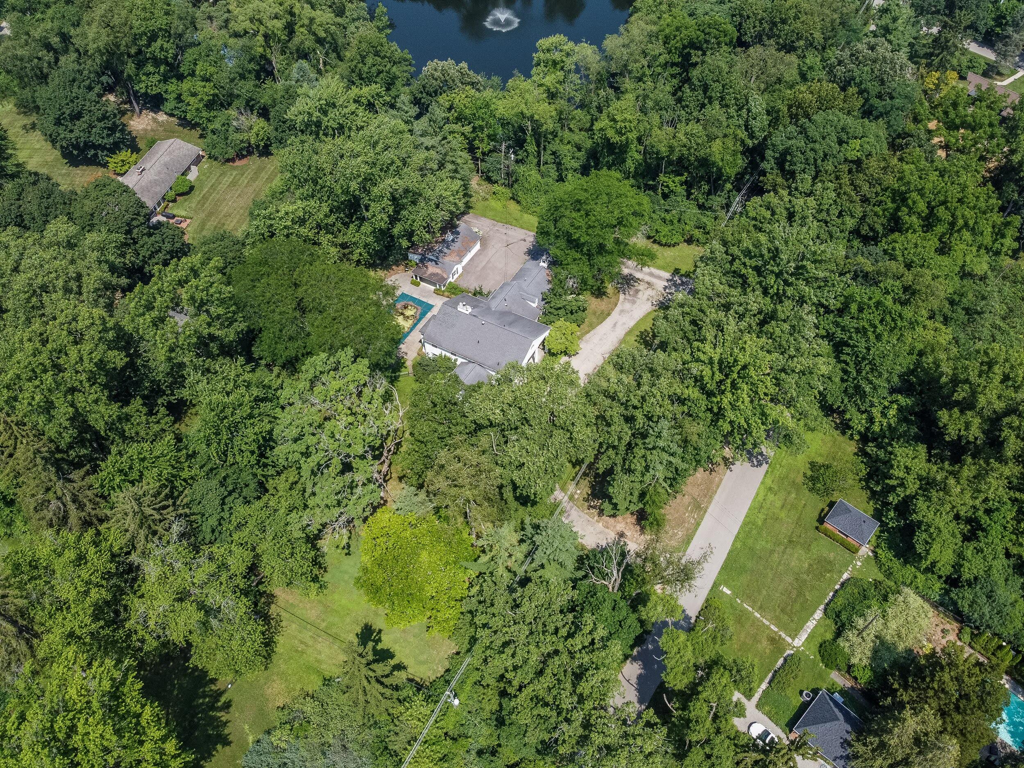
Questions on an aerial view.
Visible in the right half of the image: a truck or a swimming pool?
swimming pool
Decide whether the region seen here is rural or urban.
rural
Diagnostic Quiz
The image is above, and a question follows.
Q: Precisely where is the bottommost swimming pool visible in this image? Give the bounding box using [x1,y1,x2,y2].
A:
[982,684,1024,753]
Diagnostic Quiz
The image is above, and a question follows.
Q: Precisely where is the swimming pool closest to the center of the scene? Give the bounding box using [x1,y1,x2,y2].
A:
[368,292,434,346]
